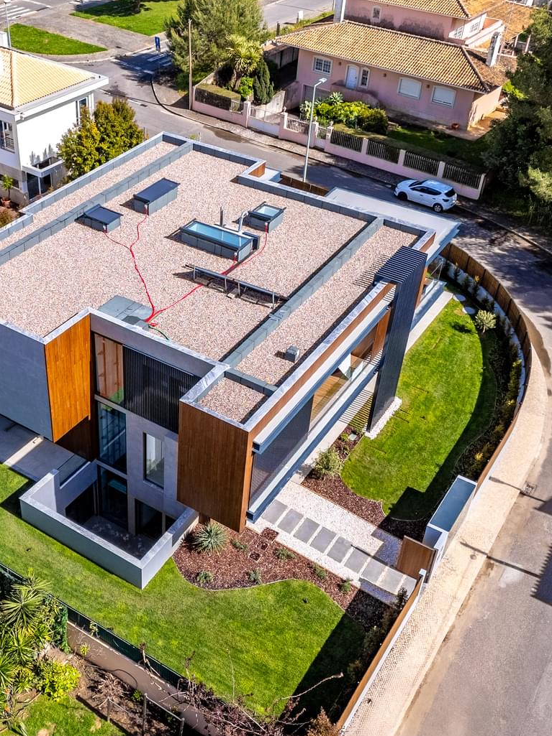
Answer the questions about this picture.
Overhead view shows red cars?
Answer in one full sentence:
No, there isn't any red car down there.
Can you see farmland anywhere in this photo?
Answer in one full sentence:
No, there is no farmland in the image.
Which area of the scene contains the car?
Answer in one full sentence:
The car is located in the top right region of the scene.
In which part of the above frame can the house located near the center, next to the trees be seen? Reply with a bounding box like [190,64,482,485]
[0,131,462,535]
